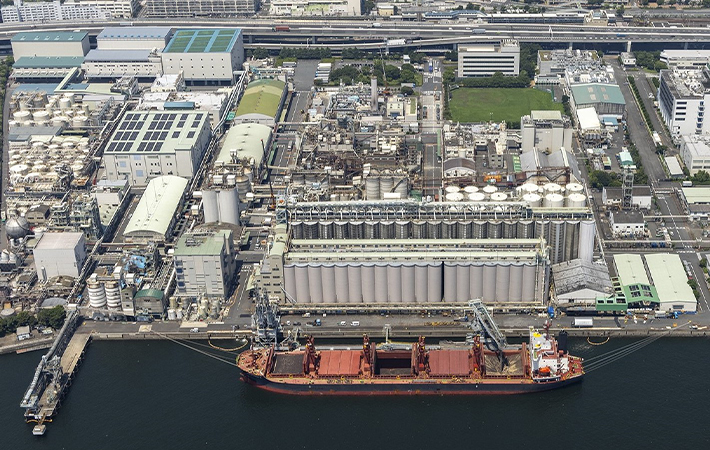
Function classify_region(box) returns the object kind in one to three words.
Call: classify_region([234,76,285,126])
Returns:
building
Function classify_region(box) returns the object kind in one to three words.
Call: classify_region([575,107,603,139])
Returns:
shed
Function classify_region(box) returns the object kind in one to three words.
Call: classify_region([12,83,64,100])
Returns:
building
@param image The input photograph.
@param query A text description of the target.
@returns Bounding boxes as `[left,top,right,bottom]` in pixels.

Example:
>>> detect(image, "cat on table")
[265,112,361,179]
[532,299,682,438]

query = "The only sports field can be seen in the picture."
[449,86,564,124]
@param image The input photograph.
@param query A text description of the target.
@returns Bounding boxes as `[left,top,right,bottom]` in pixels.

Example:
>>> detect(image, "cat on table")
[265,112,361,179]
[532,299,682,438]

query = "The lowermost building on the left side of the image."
[122,173,192,248]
